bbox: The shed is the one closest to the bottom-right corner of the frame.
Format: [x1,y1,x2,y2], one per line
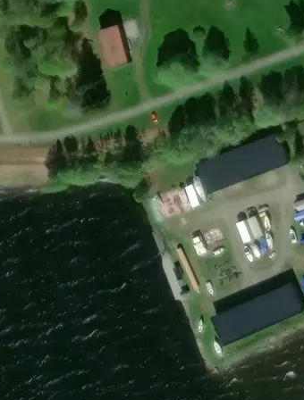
[211,282,304,347]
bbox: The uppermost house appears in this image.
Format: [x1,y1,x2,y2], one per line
[99,25,131,67]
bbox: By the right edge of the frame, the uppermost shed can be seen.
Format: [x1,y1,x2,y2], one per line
[196,134,292,194]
